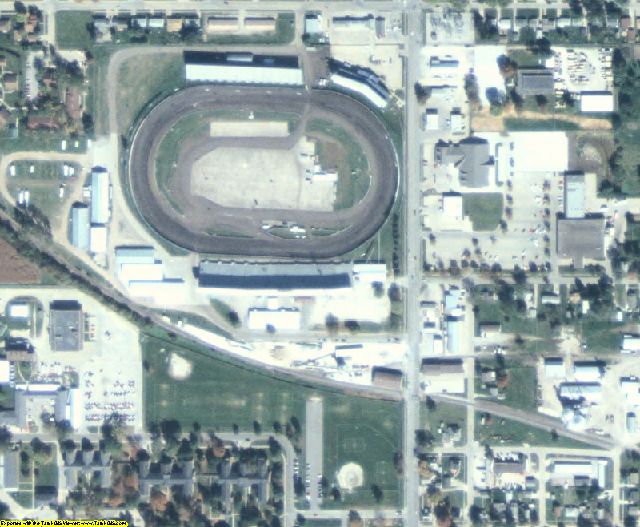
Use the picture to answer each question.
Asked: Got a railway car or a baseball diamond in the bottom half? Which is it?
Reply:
baseball diamond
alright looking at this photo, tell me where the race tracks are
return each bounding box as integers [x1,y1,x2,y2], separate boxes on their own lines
[125,83,402,261]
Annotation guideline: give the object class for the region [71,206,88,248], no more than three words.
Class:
barn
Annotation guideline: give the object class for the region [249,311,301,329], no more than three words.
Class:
building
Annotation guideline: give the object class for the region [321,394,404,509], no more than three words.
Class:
sports field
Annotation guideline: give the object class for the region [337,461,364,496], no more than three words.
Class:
baseball field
